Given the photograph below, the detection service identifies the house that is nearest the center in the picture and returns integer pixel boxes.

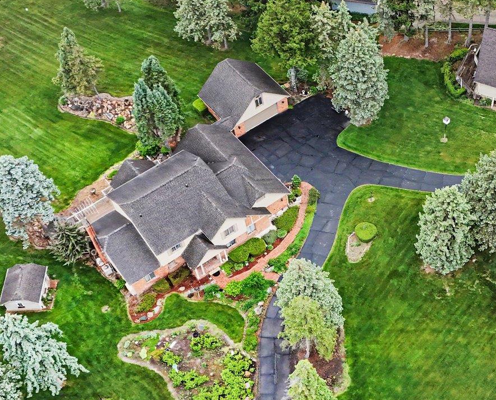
[76,57,292,296]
